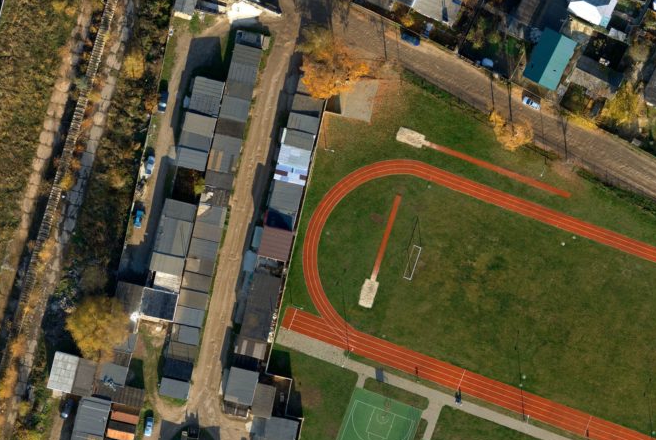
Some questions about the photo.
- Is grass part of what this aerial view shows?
Yes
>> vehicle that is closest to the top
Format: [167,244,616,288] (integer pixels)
[402,32,420,44]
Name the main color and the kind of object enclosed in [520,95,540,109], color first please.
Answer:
gray car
